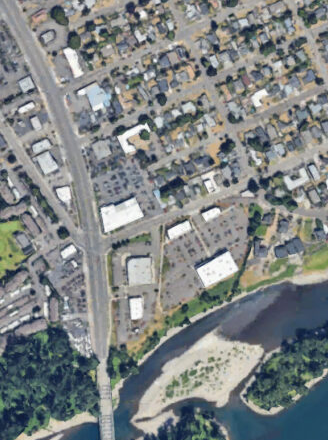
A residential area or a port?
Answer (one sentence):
This looks like a residential area.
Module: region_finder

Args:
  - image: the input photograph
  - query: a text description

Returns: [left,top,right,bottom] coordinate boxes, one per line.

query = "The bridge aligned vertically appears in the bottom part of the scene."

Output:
[96,354,113,440]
